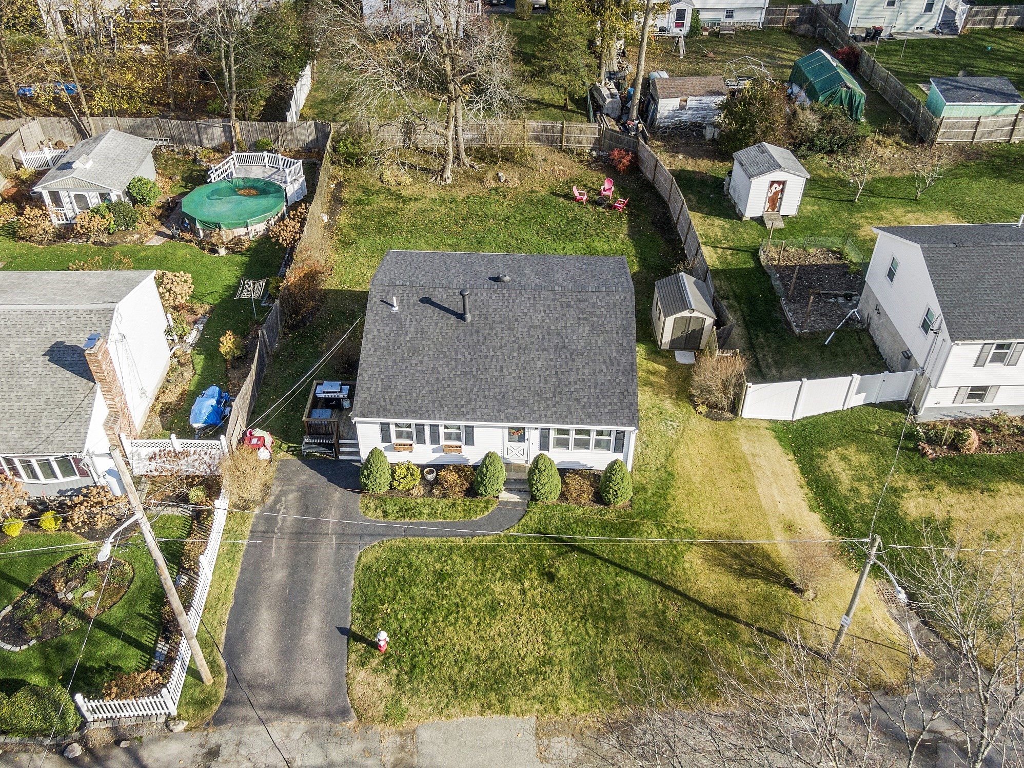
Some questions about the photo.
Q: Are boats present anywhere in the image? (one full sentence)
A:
Yes, there's a boat down there.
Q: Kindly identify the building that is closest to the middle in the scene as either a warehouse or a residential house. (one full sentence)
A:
It turns out the building that is closest to the middle is a residential house.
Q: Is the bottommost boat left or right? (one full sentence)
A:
You can find the bottommost boat on the left side of the picture.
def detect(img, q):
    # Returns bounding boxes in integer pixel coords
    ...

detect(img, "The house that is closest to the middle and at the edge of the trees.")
[348,250,642,475]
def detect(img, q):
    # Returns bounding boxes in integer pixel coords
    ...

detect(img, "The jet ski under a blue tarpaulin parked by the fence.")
[188,377,232,424]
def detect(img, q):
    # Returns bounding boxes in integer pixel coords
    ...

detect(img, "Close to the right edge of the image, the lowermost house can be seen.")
[858,218,1024,425]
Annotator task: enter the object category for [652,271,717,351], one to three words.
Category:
shed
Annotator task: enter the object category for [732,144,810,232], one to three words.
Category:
shed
